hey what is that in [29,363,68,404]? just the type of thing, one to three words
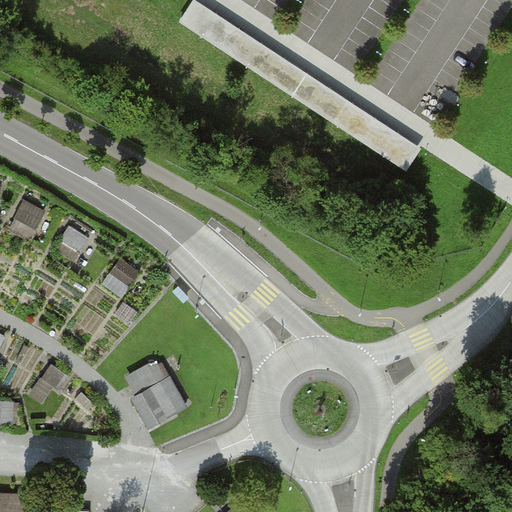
shed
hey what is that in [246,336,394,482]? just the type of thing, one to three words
roundabout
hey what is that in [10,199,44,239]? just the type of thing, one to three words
shed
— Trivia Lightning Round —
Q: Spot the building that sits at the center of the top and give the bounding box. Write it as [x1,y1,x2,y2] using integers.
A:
[180,0,421,170]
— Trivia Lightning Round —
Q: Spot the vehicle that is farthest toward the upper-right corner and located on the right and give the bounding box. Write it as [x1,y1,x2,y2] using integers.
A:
[454,52,476,68]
